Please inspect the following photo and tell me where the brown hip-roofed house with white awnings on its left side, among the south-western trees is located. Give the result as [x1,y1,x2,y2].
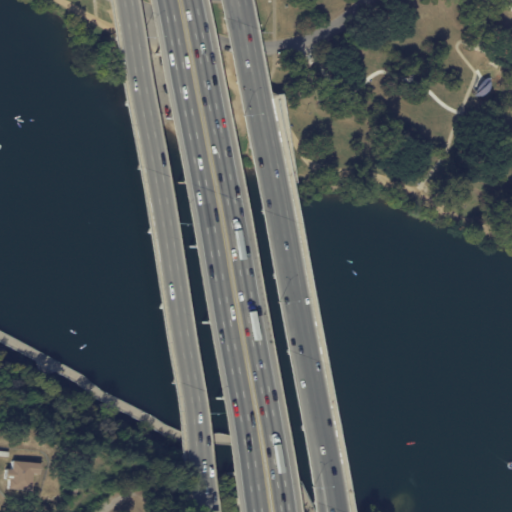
[2,461,42,490]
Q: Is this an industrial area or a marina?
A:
marina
